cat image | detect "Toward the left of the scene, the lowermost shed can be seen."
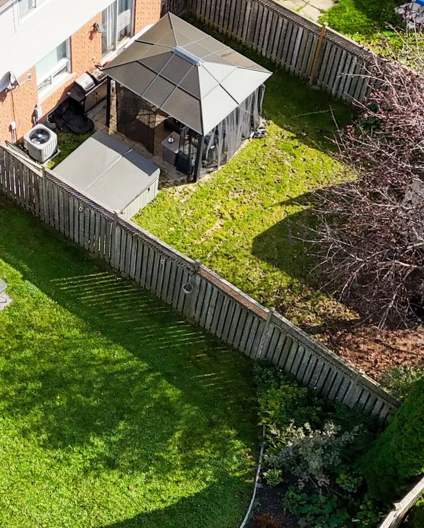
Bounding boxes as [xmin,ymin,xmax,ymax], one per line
[53,130,164,234]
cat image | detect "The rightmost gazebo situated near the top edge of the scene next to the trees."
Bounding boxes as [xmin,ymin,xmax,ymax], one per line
[98,12,273,183]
